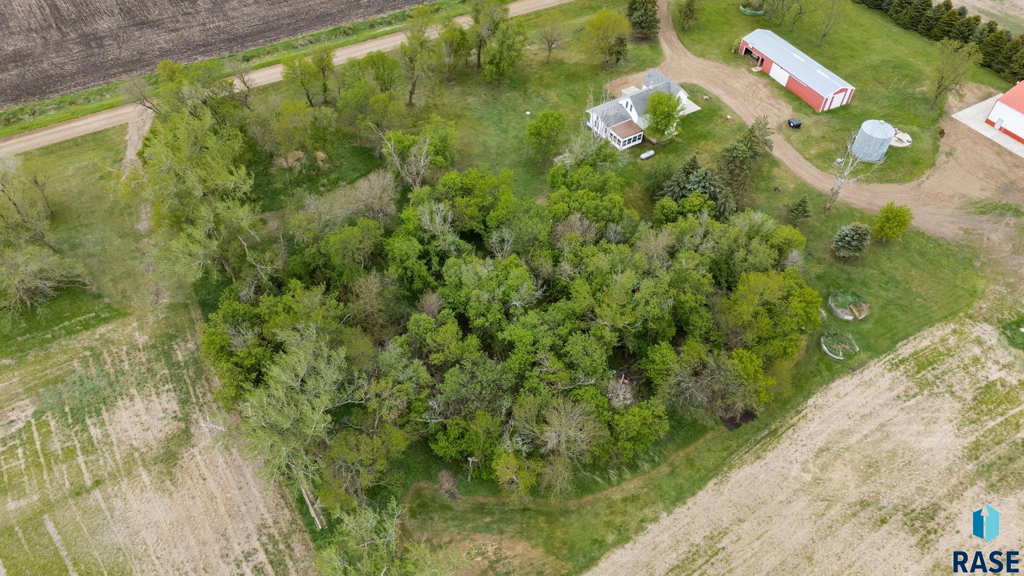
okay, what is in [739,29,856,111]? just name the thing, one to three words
shed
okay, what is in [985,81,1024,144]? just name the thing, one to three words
shed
